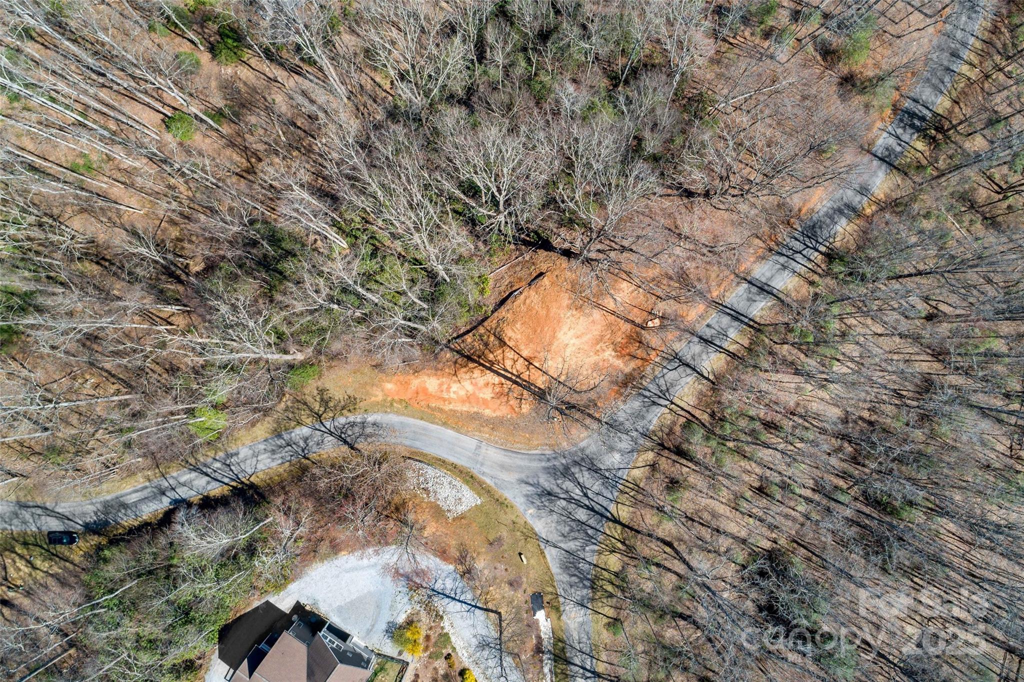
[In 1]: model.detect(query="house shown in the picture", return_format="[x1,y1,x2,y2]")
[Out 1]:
[231,618,375,682]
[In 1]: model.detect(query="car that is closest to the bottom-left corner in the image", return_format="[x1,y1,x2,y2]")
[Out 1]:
[44,532,76,547]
